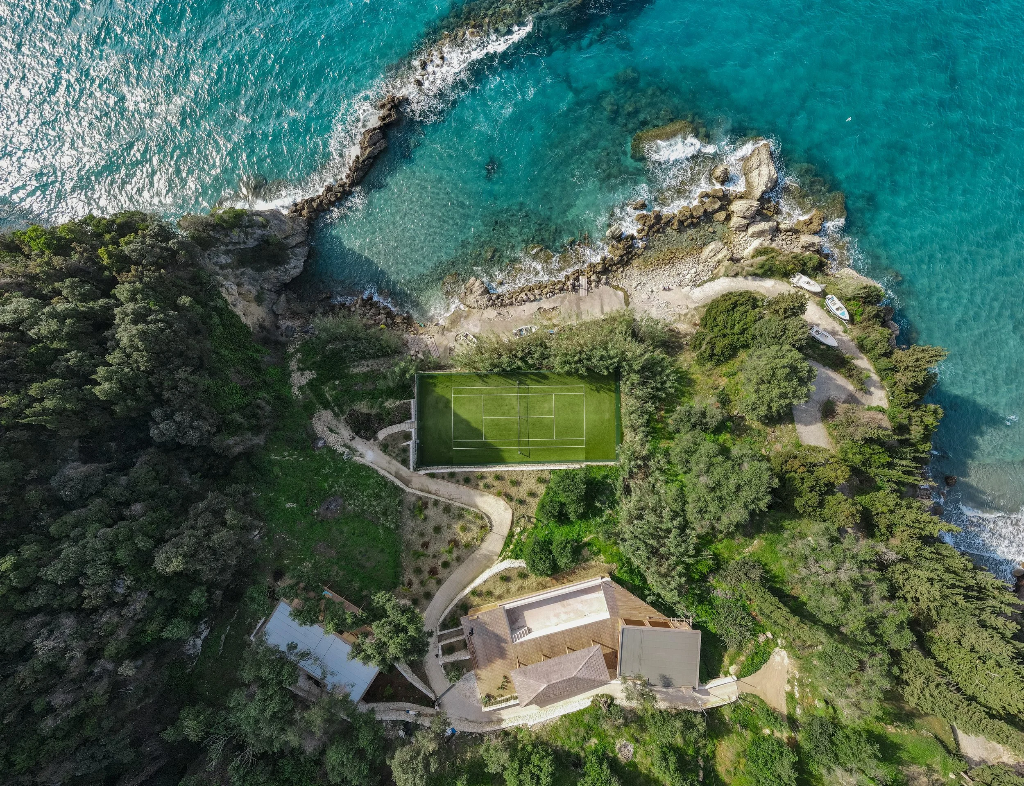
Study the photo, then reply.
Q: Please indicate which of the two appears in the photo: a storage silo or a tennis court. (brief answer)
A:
tennis court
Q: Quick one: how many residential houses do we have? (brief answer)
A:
3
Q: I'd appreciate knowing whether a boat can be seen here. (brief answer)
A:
Yes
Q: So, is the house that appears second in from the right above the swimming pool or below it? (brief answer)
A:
below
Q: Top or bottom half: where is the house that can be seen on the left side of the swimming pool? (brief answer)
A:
bottom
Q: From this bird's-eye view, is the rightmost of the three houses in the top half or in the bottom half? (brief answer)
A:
bottom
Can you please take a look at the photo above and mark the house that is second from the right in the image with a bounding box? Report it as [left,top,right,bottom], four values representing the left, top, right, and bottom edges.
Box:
[510,639,611,708]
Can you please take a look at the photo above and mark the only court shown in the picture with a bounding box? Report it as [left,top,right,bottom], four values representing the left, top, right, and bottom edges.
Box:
[416,370,620,467]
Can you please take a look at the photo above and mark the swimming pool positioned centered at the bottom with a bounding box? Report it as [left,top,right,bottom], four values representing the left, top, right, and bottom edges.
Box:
[501,577,611,644]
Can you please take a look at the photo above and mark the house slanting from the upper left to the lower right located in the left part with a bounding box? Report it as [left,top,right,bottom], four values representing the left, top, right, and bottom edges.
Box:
[258,598,381,706]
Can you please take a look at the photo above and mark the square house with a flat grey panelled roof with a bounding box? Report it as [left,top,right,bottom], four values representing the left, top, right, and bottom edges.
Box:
[614,617,701,690]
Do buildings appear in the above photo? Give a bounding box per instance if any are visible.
[258,598,381,706]
[510,639,611,708]
[614,617,701,690]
